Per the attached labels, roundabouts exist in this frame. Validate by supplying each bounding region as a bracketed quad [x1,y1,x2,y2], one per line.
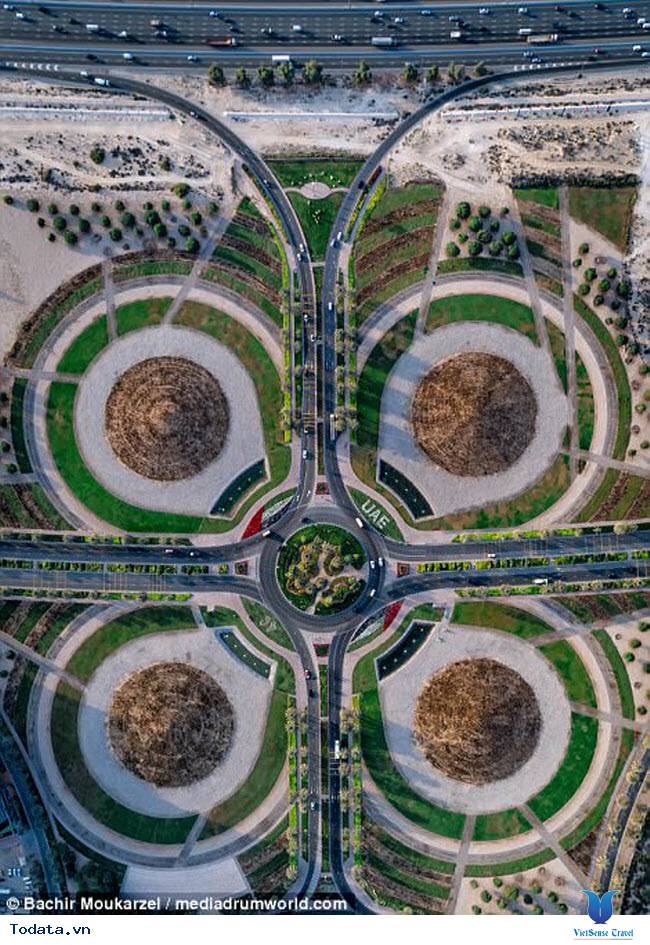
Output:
[259,506,385,631]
